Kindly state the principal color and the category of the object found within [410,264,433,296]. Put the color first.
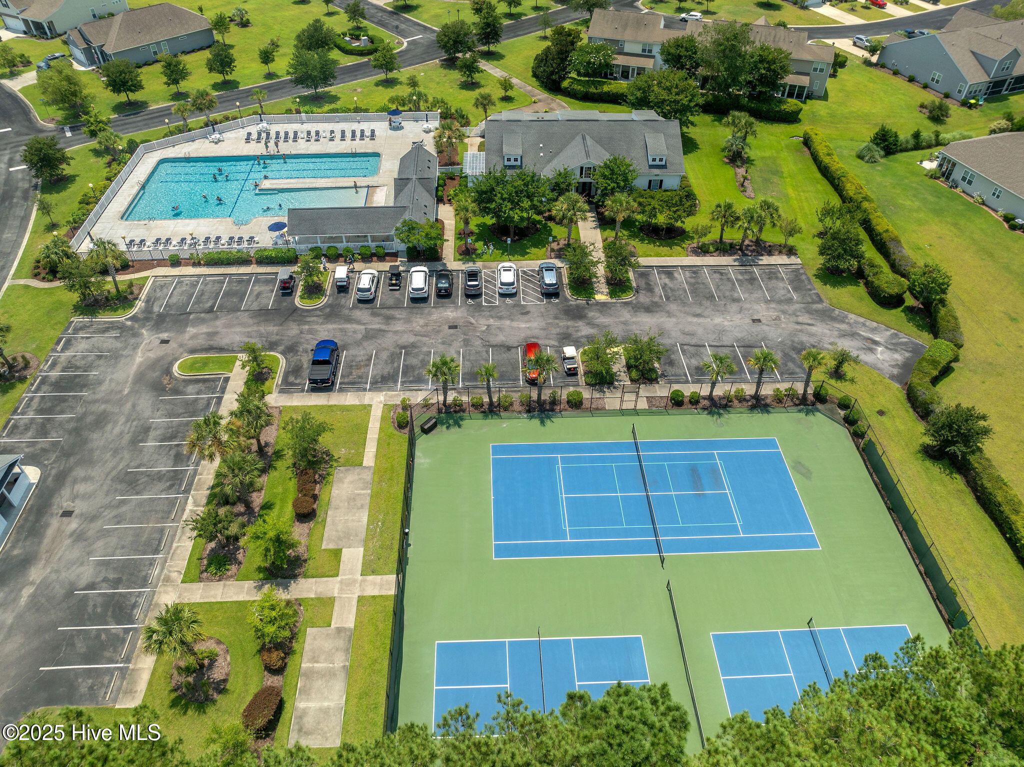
white car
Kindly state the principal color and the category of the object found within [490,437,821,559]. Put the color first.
blue tennis court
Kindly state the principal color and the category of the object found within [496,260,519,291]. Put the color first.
white car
